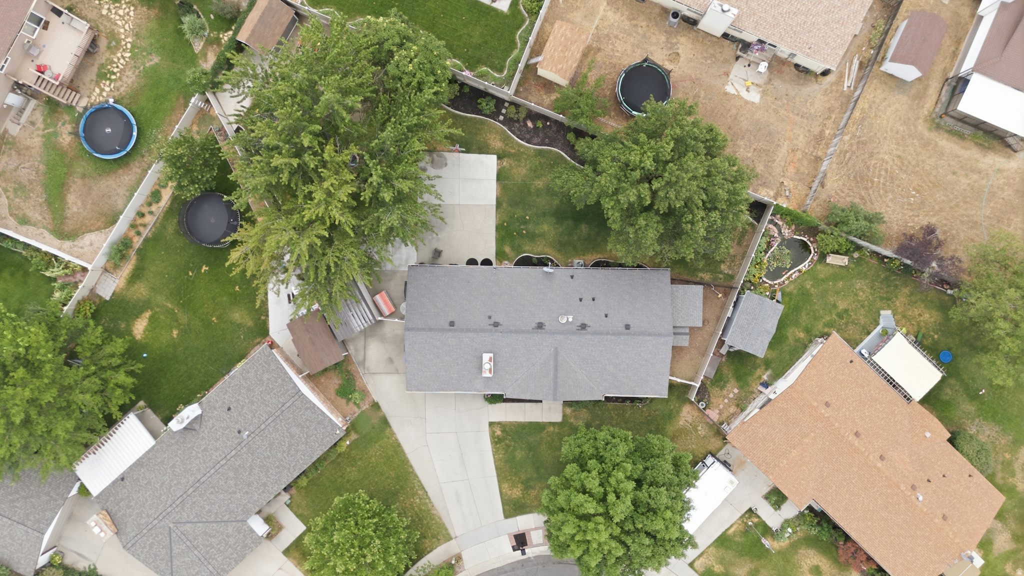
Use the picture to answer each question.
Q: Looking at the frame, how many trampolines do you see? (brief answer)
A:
3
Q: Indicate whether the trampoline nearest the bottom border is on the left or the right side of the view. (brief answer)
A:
left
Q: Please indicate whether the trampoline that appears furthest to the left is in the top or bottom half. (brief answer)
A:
top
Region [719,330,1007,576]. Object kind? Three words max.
house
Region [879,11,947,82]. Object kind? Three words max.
shed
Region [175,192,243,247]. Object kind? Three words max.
trampoline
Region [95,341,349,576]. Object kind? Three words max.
house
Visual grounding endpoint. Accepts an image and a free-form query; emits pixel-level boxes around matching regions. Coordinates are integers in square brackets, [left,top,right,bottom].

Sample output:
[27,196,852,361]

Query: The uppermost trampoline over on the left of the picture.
[76,100,152,159]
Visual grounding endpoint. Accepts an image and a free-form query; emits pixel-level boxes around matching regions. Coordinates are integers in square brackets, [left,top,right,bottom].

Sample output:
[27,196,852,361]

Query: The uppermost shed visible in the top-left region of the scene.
[237,0,296,57]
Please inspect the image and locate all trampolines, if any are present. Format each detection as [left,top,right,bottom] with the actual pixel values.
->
[617,52,673,115]
[76,100,152,159]
[175,192,243,247]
